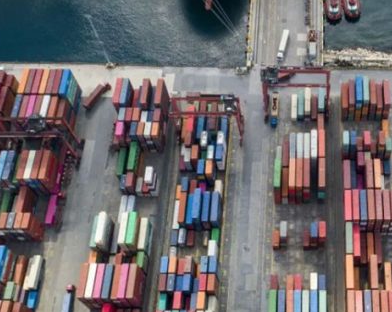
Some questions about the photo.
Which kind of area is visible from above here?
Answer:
port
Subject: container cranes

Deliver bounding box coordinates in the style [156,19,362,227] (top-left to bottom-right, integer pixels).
[263,66,334,122]
[0,114,83,170]
[170,93,250,150]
